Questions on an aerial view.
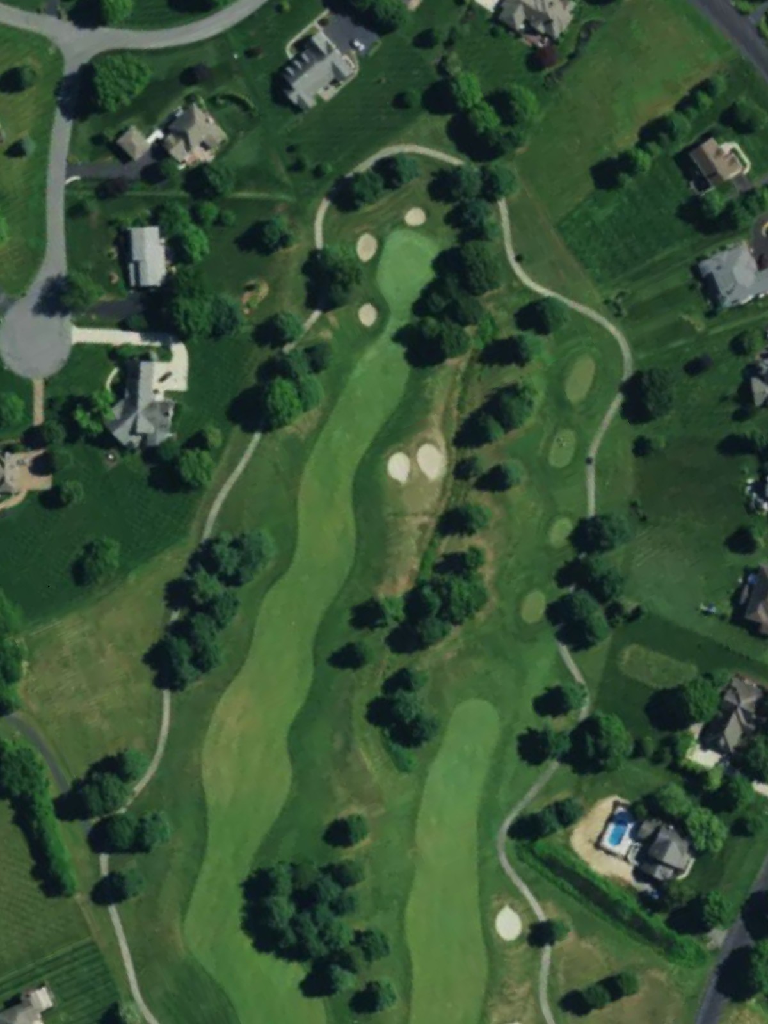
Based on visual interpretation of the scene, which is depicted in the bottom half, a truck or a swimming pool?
swimming pool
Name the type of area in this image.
golf course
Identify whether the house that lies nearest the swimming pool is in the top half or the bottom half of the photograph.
bottom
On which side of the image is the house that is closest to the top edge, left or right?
right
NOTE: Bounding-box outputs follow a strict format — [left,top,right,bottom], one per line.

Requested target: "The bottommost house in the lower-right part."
[634,819,694,884]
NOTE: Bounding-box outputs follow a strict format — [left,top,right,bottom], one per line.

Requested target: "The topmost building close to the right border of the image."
[688,135,745,186]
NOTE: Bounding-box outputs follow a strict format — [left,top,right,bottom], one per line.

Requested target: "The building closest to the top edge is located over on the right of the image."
[492,0,585,42]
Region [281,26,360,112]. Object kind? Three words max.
house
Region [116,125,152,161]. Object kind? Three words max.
building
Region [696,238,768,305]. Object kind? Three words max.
house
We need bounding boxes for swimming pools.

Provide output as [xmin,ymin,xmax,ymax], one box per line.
[599,805,635,857]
